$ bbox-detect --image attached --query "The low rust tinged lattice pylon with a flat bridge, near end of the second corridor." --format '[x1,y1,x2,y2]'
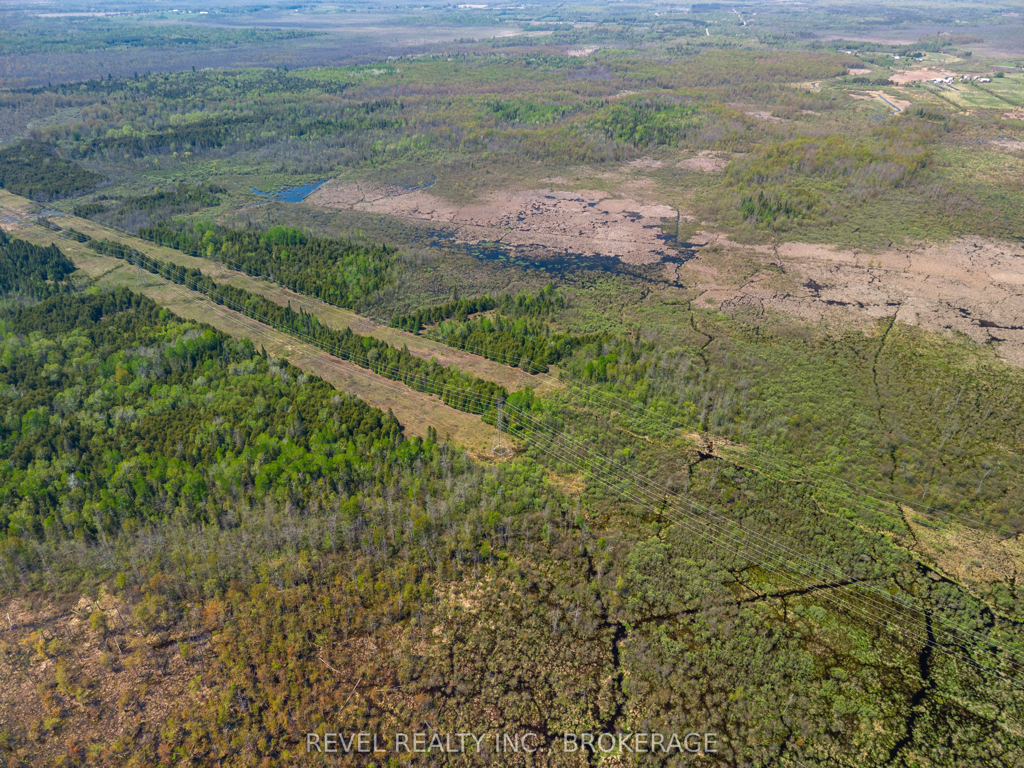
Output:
[516,354,532,388]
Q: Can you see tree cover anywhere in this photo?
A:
Yes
